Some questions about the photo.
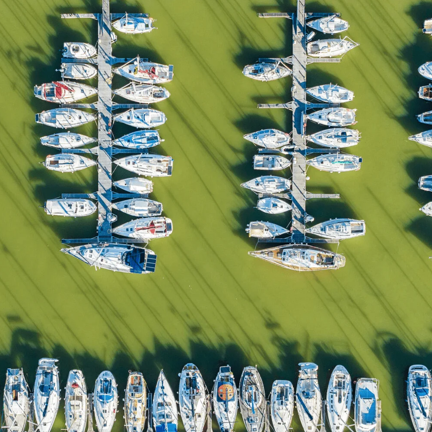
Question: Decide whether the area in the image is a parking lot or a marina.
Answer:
marina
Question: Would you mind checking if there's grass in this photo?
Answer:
No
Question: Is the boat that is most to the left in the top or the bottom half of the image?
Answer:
bottom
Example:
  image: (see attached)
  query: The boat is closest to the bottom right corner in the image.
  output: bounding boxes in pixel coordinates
[401,366,432,432]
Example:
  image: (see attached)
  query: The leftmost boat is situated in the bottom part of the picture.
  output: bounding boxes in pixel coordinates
[0,370,30,432]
